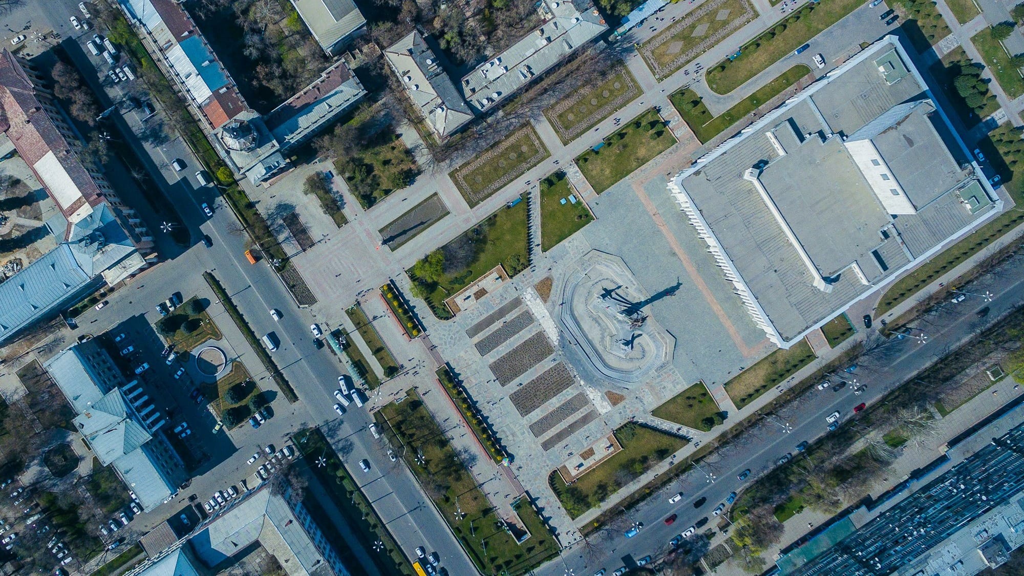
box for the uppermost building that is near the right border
[650,36,1002,348]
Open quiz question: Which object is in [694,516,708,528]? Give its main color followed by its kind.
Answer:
black vehicle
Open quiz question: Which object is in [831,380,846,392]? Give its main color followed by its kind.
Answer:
black vehicle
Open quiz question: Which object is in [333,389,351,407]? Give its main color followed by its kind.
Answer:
white vehicle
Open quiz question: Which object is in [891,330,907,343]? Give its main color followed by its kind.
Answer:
blue vehicle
